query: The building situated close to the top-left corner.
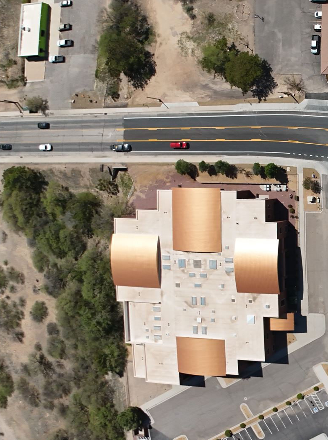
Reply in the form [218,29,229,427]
[18,2,52,58]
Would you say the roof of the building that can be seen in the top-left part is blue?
No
